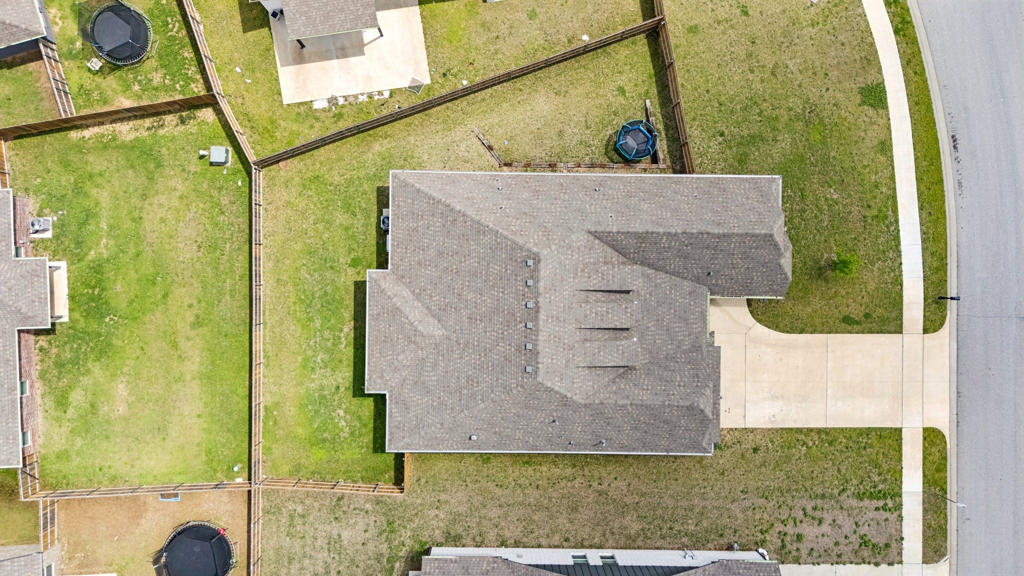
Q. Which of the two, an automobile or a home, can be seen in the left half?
home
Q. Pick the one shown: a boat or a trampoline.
trampoline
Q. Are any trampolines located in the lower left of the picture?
Yes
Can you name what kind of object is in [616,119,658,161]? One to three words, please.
trampoline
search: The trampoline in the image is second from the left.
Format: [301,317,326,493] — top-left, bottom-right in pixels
[149,520,239,576]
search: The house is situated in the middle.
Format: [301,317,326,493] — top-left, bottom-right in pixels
[363,168,792,458]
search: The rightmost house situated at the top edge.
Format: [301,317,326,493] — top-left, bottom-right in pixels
[281,0,384,50]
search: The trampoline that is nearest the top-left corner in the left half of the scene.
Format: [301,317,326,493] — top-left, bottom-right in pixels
[77,0,158,68]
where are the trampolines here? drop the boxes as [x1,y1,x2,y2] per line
[77,0,158,68]
[616,119,658,161]
[149,520,239,576]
